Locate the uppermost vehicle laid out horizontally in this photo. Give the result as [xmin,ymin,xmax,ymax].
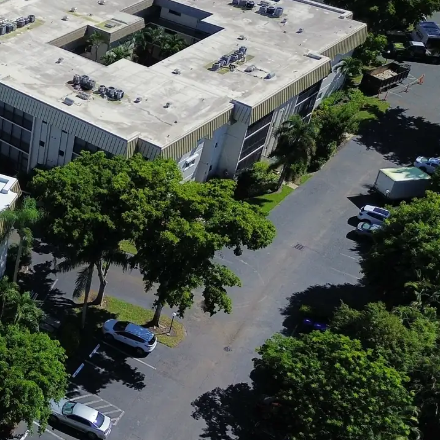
[389,43,440,62]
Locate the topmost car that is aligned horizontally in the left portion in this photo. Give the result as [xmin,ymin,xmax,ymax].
[97,317,158,351]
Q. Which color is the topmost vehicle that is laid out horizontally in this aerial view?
black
